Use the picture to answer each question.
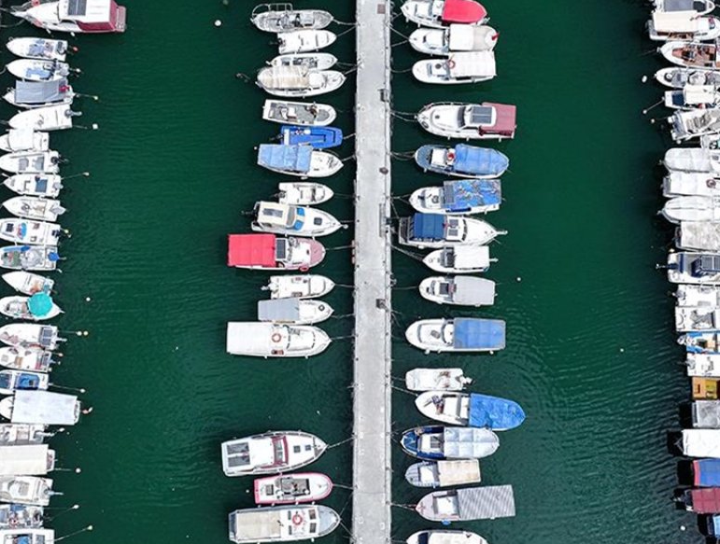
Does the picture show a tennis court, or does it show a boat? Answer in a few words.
boat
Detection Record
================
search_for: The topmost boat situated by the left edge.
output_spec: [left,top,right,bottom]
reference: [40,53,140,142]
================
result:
[0,0,130,37]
